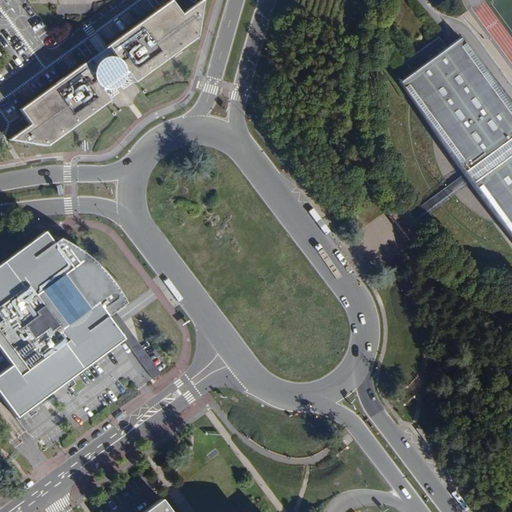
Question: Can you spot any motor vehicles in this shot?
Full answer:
Yes, you can see a motor vehicle in this photo.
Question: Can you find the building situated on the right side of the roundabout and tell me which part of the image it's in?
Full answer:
The building situated on the right side of the roundabout is in the top right part of the image.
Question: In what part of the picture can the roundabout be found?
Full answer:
The roundabout sits in the center section of the image.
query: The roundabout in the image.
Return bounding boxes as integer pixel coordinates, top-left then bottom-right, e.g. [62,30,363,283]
[78,75,400,494]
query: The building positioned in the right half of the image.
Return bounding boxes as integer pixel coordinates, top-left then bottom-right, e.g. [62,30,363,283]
[399,38,512,240]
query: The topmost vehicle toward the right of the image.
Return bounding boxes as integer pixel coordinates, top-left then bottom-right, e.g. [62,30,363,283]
[307,208,331,236]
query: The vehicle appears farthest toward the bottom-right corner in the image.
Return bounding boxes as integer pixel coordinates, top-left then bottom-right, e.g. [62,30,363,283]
[450,488,472,512]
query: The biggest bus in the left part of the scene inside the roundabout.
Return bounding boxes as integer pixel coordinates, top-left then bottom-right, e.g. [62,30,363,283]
[164,276,186,303]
